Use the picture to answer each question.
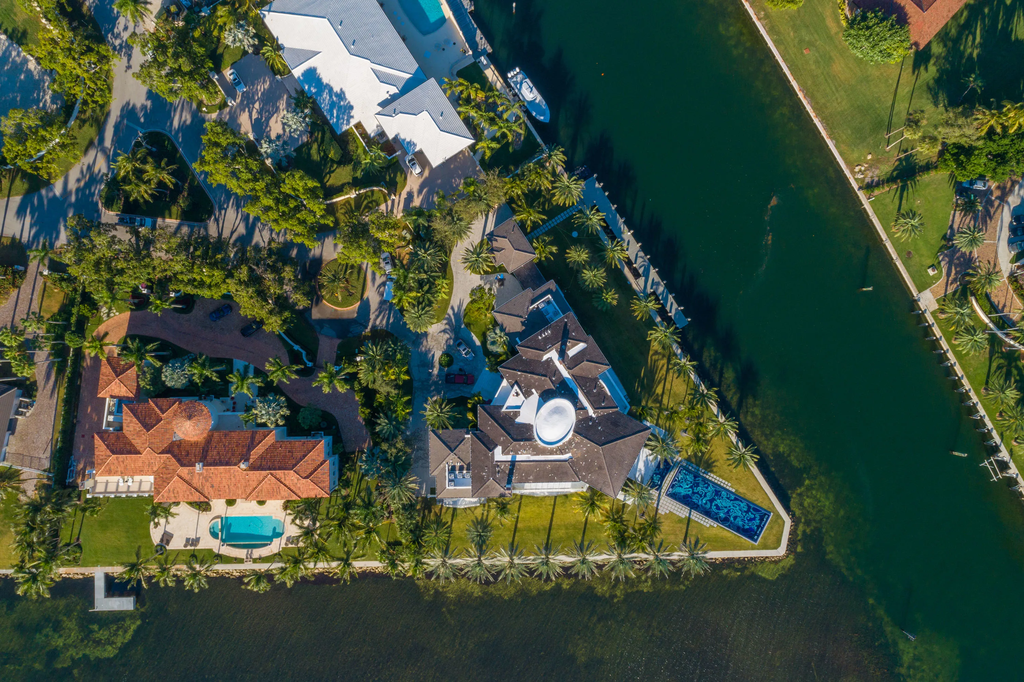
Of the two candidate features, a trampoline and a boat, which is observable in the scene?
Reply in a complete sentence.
It is a boat that can be seen here.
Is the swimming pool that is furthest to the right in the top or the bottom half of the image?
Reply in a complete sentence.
You can find the swimming pool that is furthest to the right in the bottom half.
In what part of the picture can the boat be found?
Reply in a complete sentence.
The boat appears toward the top of the photo.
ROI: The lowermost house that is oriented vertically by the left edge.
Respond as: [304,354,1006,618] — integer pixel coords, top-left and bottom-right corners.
[0,387,37,465]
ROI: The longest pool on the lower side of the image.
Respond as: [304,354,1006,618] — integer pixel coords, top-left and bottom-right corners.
[662,463,775,546]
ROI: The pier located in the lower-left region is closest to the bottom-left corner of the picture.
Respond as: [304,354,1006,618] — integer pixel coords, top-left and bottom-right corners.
[90,572,136,611]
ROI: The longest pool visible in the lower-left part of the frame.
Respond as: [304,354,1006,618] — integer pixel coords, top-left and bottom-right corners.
[221,514,286,544]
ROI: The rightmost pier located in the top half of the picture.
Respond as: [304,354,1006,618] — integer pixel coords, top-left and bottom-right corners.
[577,174,690,328]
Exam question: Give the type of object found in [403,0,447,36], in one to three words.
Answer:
swimming pool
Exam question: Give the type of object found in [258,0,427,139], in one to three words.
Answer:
house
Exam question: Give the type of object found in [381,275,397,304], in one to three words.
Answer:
vehicle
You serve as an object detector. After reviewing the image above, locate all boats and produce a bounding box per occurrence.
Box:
[504,63,550,125]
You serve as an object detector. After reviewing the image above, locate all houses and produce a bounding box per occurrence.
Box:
[94,359,341,504]
[258,0,427,139]
[893,0,968,54]
[429,279,679,508]
[0,387,37,465]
